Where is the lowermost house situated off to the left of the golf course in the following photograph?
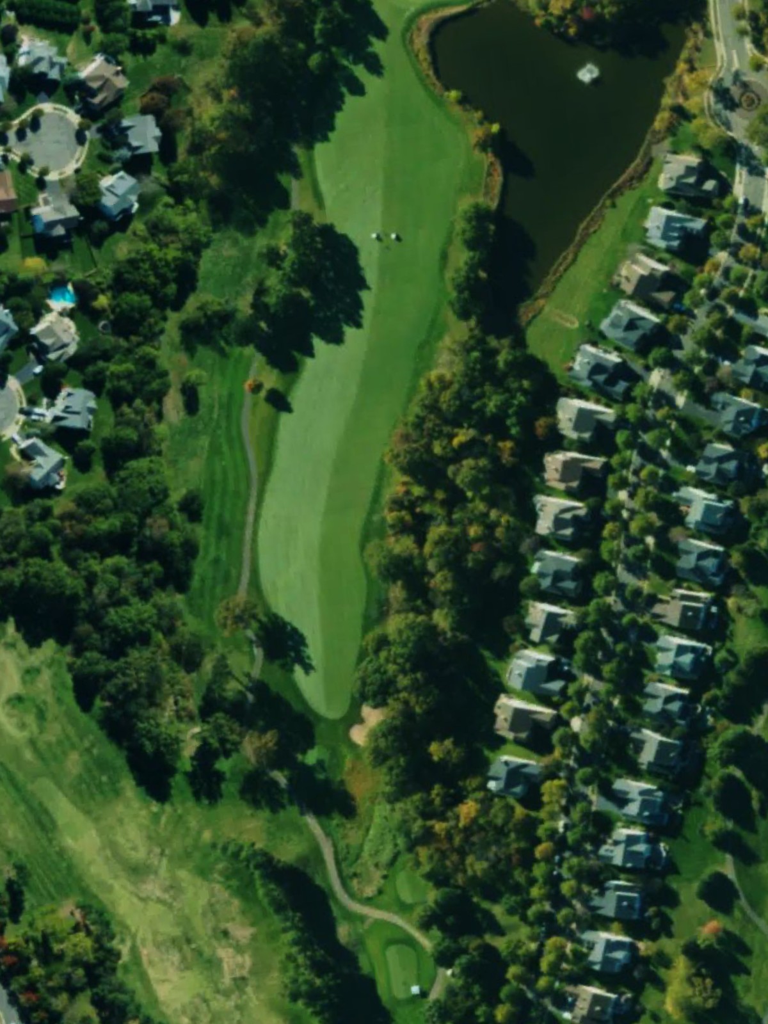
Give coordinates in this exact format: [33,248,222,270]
[14,438,79,487]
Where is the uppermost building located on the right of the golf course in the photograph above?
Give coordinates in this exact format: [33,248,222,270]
[647,150,720,201]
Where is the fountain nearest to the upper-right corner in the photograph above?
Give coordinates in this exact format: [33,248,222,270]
[576,62,599,83]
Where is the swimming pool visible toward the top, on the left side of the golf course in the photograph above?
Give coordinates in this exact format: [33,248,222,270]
[47,281,77,311]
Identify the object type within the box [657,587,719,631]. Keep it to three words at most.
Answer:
house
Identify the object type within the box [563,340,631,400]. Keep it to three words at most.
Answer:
house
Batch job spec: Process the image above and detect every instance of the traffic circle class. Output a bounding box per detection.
[723,71,768,135]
